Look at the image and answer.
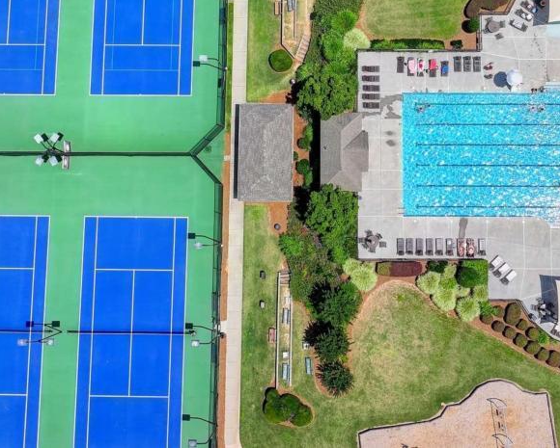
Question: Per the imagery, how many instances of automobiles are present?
0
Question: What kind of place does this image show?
sports ground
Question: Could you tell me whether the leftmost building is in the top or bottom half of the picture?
top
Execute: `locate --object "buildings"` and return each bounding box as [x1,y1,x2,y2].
[320,112,370,192]
[236,103,292,201]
